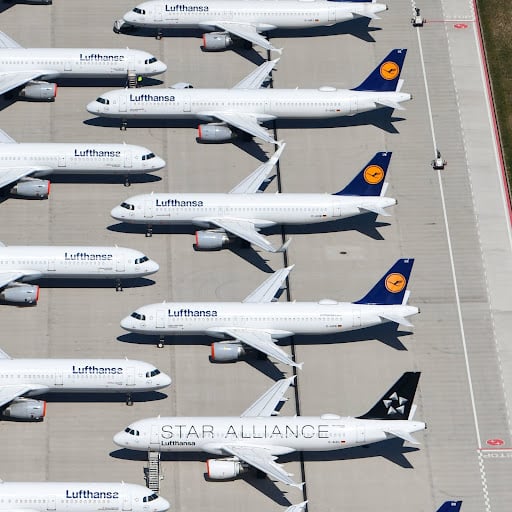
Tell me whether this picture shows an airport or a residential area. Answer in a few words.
airport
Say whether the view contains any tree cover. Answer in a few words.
No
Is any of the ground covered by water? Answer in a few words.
No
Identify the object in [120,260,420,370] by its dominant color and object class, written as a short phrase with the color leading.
white airplane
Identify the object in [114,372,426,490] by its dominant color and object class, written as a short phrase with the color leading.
white airplane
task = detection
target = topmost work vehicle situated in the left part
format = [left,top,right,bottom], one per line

[114,20,139,33]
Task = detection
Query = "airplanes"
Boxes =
[0,28,166,99]
[114,372,426,490]
[0,240,160,302]
[87,48,412,146]
[0,474,170,512]
[120,260,420,370]
[110,142,397,252]
[0,346,172,418]
[124,0,388,54]
[0,124,166,194]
